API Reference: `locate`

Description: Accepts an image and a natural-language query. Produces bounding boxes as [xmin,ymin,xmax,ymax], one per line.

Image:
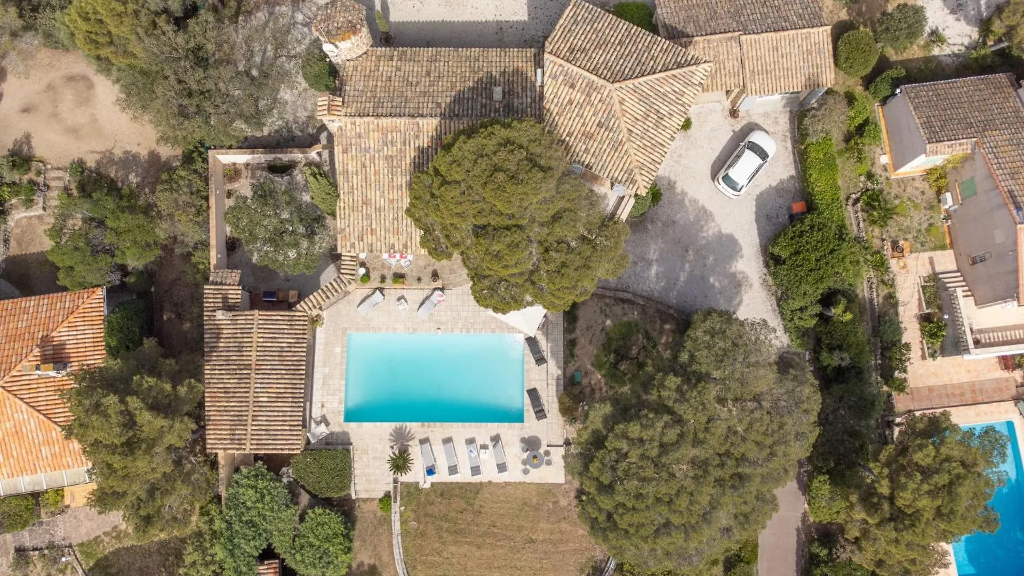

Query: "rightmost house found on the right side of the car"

[880,71,1024,306]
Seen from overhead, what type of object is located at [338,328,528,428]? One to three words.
swimming pool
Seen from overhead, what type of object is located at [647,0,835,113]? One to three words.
building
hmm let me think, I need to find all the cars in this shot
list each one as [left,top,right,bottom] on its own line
[716,130,776,200]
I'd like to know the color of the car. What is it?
white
